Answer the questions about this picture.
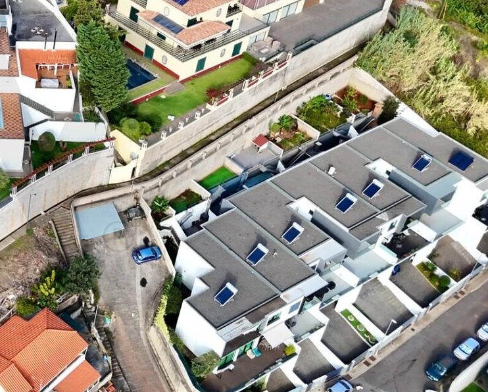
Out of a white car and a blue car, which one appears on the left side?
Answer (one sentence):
You can see a blue car on the left side.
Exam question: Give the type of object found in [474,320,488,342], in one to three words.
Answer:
vehicle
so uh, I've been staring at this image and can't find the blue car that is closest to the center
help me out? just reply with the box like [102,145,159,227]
[130,245,162,262]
